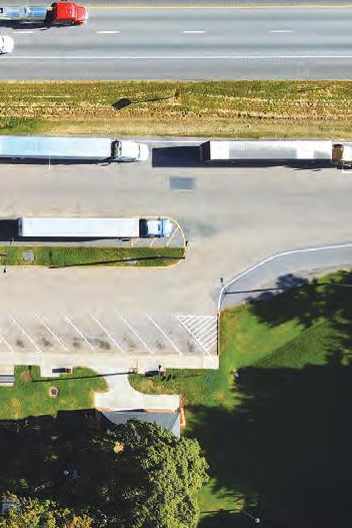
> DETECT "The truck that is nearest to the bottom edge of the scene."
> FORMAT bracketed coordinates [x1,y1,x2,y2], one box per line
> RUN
[17,217,173,239]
